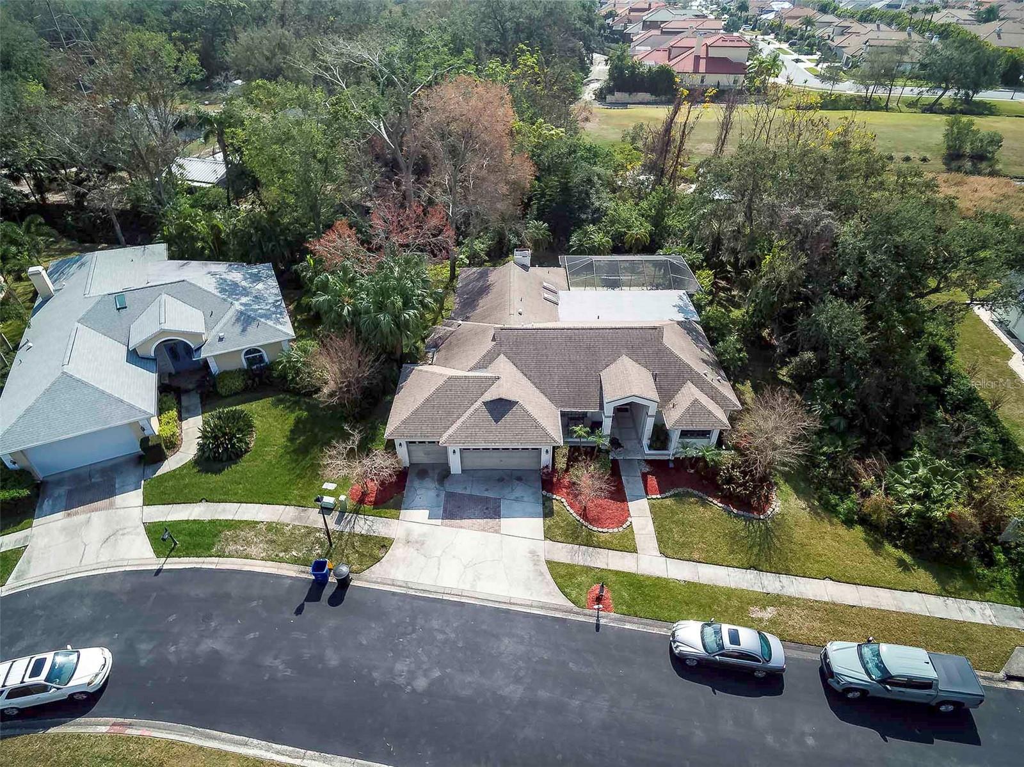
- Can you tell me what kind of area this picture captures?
residential area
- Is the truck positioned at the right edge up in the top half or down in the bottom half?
bottom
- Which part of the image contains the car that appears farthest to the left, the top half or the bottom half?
bottom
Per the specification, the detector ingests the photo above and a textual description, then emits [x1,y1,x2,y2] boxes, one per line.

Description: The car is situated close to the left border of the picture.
[0,647,107,718]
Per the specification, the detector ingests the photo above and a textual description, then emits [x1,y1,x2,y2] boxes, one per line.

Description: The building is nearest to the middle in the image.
[383,248,742,473]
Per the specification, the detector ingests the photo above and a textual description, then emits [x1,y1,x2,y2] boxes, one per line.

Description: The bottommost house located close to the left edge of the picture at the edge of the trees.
[0,245,301,482]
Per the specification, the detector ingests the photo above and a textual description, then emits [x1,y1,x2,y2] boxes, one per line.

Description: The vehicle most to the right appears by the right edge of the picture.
[826,643,990,714]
